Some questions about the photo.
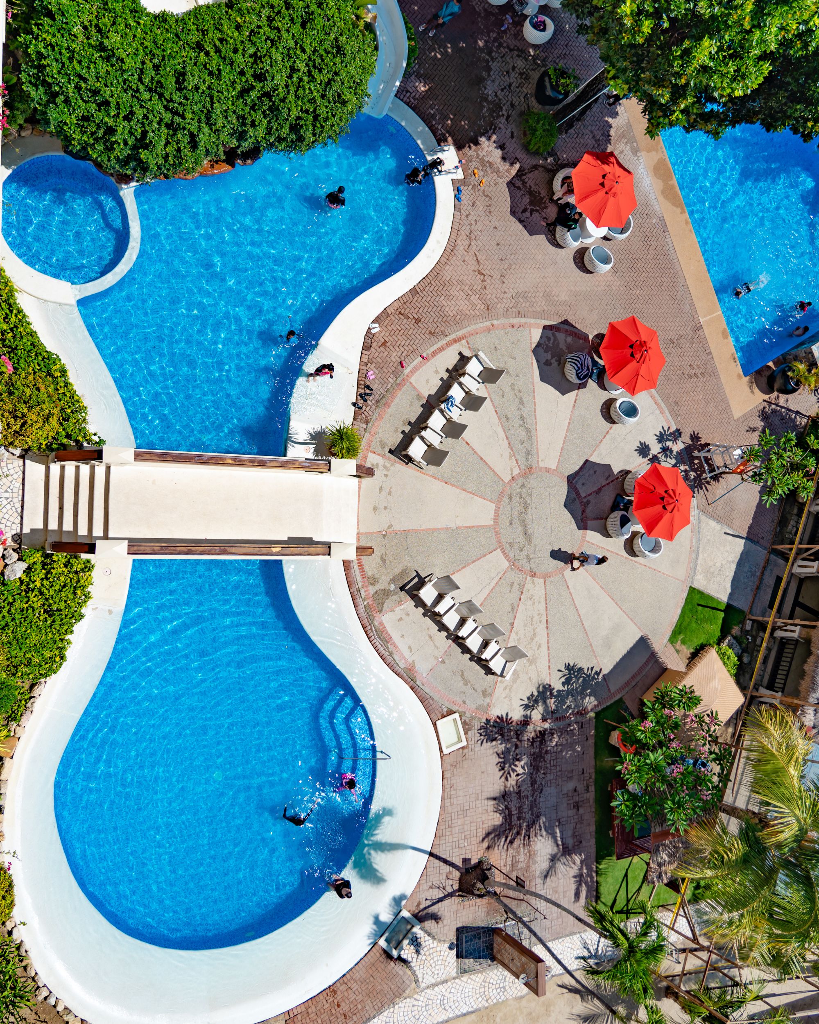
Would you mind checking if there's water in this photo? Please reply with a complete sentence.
Yes, there's water in this view.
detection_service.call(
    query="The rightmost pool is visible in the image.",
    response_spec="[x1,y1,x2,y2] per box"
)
[625,16,819,375]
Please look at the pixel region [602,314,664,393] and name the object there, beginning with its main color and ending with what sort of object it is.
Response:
red umbrella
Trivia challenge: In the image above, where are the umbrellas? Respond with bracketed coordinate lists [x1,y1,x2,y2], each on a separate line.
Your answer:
[632,463,693,541]
[602,314,664,393]
[570,153,635,232]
